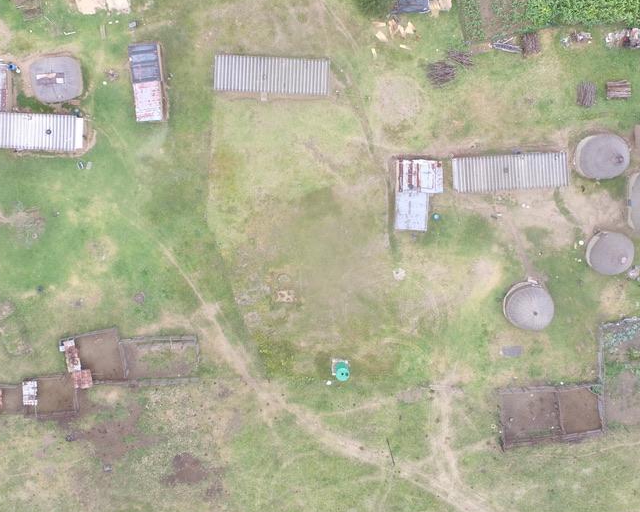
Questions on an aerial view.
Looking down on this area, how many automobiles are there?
0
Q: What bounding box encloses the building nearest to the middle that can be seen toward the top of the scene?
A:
[393,160,443,231]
